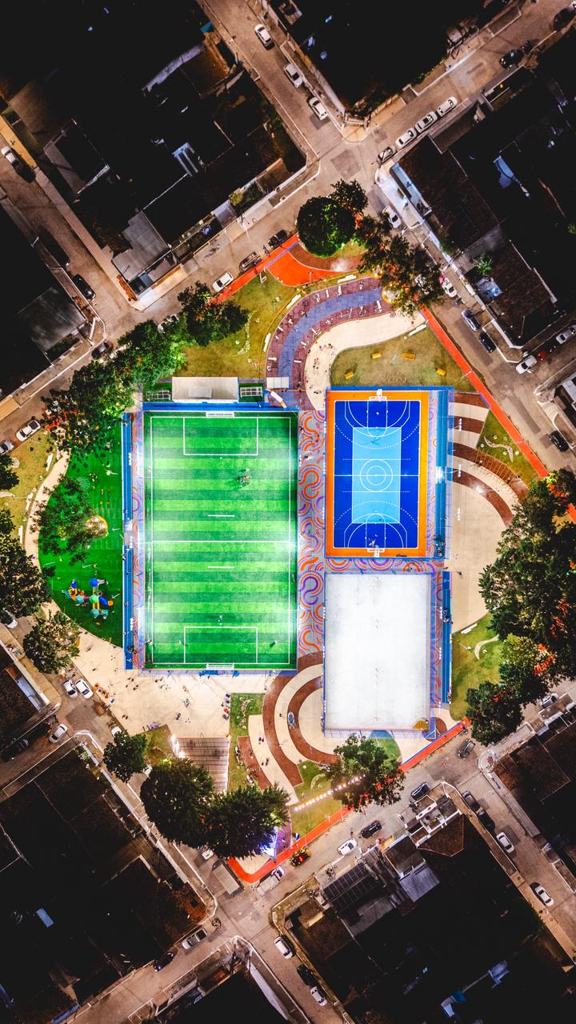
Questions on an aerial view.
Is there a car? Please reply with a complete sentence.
Yes, you can see a car in this photo.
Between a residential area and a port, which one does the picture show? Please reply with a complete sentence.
It's a residential area.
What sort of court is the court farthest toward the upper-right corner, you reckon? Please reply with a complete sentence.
It turns out the court farthest toward the upper-right corner is a basketball court.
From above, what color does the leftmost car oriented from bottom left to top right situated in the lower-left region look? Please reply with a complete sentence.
The leftmost car oriented from bottom left to top right situated in the lower-left region looks black in the image.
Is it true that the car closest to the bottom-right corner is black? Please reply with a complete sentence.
No, the car closest to the bottom-right corner is white.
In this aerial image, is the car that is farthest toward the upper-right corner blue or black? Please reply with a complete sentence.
In this view, the car that is farthest toward the upper-right corner is black.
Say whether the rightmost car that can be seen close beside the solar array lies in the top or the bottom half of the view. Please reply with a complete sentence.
You can find the rightmost car that can be seen close beside the solar array in the bottom half.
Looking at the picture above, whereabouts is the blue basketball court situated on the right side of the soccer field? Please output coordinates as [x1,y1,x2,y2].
[326,390,429,557]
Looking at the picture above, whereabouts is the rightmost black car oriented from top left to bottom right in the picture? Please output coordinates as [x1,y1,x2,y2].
[549,429,570,452]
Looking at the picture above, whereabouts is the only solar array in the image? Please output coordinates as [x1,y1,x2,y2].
[326,852,388,909]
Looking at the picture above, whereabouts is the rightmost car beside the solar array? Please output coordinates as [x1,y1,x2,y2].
[360,820,383,841]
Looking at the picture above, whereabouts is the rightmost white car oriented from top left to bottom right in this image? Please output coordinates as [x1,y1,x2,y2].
[534,884,554,907]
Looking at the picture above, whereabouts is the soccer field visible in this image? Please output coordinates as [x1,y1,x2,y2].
[144,412,298,670]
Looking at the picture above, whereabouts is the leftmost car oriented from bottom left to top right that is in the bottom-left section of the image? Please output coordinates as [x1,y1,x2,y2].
[2,740,27,760]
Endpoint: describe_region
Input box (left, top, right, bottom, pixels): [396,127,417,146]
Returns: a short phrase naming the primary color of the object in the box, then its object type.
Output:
white car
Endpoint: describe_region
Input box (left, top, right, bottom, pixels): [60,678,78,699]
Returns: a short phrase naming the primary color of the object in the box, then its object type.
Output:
white car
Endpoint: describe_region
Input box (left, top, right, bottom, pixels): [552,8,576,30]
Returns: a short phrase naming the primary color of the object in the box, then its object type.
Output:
black car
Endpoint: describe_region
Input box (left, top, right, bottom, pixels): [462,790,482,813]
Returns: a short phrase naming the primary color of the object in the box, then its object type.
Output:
gray car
